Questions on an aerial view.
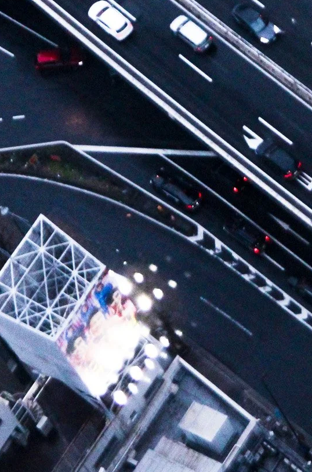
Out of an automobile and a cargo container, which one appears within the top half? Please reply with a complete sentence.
It is an automobile that can be seen within the top half.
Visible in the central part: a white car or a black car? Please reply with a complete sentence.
You can see a black car in the central part.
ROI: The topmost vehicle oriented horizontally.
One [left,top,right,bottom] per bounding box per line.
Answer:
[34,46,87,75]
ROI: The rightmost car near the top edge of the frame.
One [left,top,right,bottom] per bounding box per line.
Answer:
[231,2,282,48]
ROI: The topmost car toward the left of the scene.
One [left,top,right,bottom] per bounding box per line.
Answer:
[89,1,137,44]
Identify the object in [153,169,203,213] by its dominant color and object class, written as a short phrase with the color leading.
black car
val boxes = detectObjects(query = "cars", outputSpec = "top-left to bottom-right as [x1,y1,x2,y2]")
[89,1,137,44]
[167,14,217,57]
[231,2,282,48]
[222,215,273,260]
[34,46,87,75]
[206,158,255,201]
[255,140,303,182]
[153,169,203,213]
